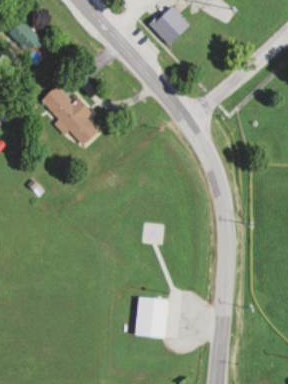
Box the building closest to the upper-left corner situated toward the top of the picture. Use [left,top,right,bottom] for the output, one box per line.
[10,22,40,51]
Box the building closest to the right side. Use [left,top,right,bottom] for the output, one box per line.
[152,8,190,45]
